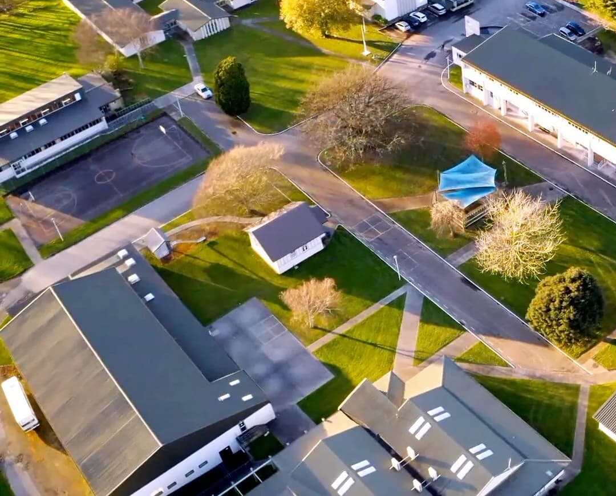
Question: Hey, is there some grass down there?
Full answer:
Yes, some grass is visible.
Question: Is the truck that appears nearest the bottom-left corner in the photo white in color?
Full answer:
Yes, the truck that appears nearest the bottom-left corner appears white.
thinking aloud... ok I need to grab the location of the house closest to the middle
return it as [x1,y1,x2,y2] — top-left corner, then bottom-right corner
[244,200,341,273]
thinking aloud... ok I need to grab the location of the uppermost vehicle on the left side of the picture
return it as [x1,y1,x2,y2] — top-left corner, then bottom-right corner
[194,82,212,98]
